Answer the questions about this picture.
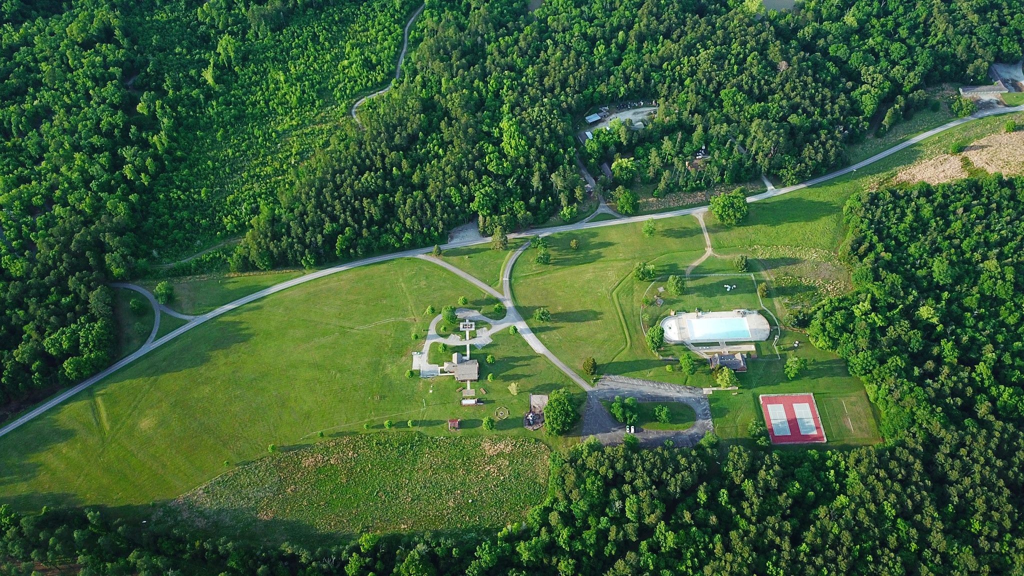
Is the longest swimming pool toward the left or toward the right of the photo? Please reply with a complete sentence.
It is on the right.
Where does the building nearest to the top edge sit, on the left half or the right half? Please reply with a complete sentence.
It is on the right.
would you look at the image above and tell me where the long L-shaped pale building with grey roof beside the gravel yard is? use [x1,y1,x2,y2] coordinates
[960,64,1011,94]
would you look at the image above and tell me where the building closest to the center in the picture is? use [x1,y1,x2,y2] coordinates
[448,351,479,382]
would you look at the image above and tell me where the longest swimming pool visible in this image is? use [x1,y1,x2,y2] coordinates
[660,309,770,344]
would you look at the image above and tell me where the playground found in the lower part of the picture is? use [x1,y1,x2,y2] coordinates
[524,394,549,431]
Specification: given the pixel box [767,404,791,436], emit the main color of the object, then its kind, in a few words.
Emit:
white tennis court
